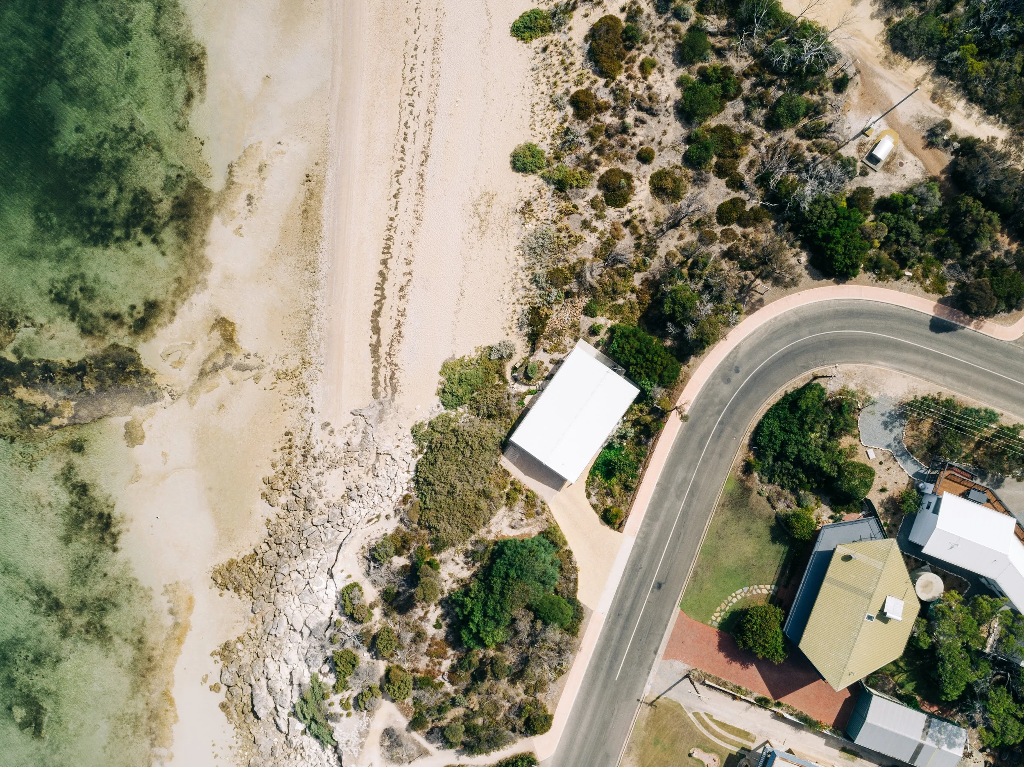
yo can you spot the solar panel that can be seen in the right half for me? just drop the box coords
[876,588,908,623]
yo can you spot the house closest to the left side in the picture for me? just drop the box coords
[510,338,641,484]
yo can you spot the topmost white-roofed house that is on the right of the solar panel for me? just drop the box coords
[901,458,1024,623]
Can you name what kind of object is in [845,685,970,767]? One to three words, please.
shed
